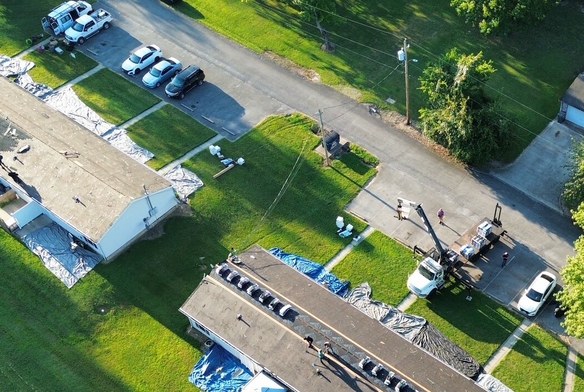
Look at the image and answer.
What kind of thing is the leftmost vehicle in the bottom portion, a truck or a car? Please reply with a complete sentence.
It looks like the leftmost vehicle in the bottom portion is a truck.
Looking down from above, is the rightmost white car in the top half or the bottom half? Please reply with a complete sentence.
The rightmost white car sits in the bottom half of the picture.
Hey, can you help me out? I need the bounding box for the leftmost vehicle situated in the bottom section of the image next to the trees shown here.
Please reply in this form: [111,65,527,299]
[386,199,511,309]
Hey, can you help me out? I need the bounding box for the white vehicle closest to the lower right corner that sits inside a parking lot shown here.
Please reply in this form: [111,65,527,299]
[514,270,564,320]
